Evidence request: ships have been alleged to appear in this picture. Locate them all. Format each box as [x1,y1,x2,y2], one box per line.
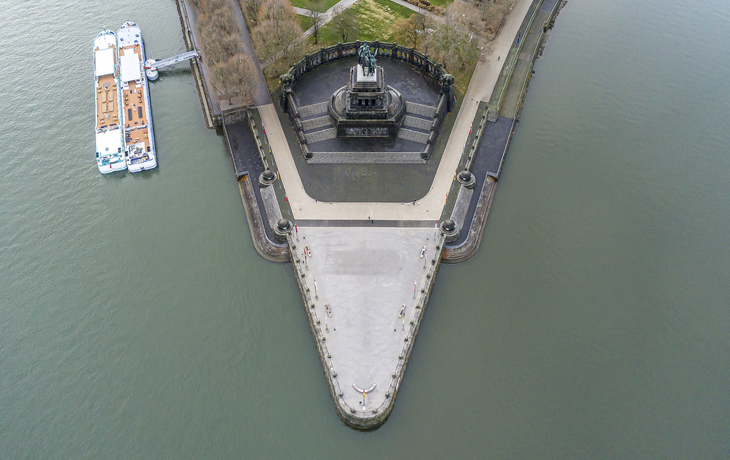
[94,22,128,173]
[118,19,160,173]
